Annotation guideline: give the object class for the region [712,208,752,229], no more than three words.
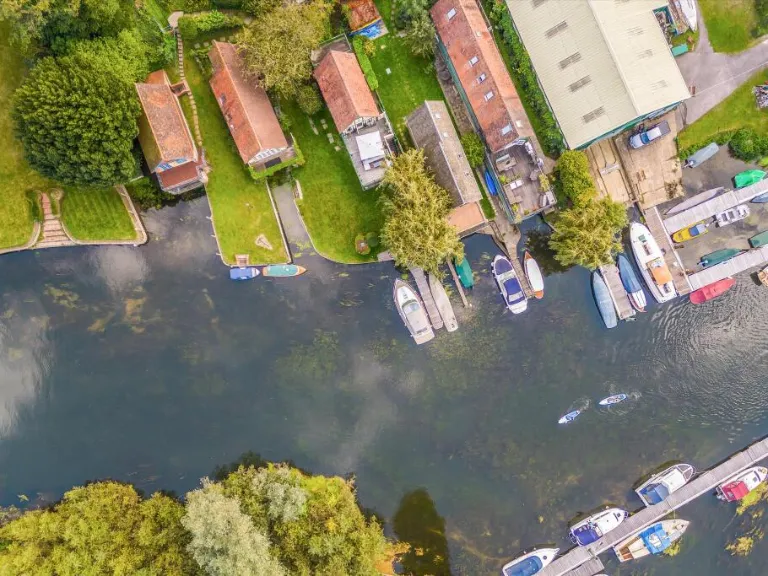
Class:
boat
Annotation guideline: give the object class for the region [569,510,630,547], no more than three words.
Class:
boat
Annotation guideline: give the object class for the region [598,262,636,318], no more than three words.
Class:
pier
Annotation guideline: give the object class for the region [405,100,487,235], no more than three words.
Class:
building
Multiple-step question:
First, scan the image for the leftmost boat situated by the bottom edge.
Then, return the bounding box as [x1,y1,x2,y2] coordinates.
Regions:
[503,547,569,576]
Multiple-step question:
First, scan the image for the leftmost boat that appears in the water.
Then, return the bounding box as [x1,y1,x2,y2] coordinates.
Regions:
[230,263,260,279]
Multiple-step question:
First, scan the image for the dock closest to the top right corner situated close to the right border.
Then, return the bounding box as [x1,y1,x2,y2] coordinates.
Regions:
[731,174,768,203]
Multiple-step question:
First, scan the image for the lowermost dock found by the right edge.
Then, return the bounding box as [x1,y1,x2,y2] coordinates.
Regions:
[541,433,768,576]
